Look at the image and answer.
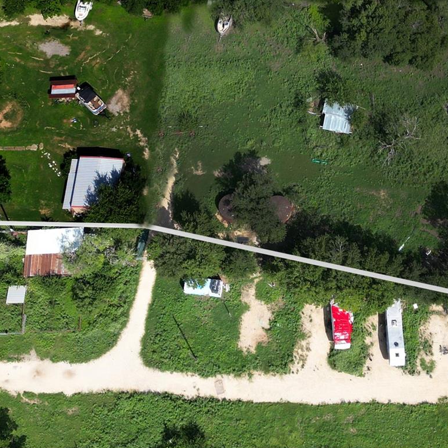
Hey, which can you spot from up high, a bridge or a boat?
boat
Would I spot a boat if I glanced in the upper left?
Yes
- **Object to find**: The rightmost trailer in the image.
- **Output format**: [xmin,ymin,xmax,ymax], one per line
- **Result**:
[384,302,406,377]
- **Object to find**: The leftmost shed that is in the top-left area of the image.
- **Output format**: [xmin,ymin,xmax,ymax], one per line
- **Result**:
[50,79,79,99]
